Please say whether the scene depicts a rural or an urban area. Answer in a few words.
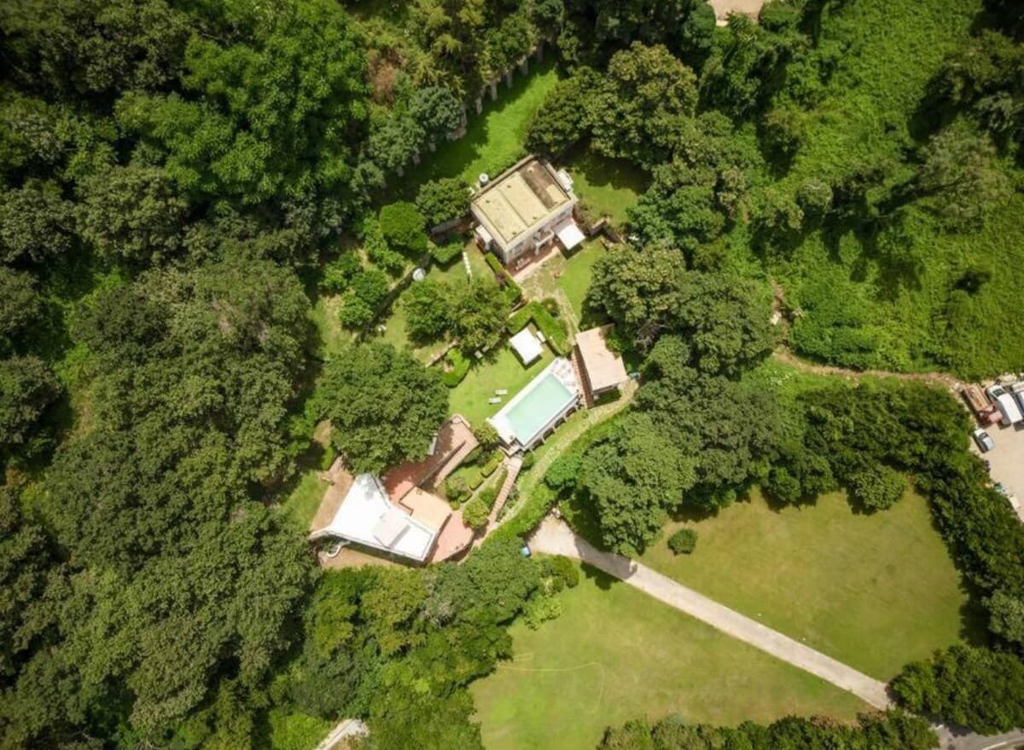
rural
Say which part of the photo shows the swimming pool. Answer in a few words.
center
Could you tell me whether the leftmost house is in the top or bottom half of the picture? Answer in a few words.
bottom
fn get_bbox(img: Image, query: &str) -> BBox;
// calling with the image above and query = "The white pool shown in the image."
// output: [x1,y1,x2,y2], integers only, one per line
[487,359,580,456]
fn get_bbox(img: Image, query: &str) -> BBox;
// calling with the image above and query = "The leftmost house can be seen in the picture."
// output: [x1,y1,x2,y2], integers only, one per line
[310,474,438,562]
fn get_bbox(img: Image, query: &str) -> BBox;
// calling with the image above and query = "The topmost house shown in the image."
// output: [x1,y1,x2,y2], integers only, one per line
[472,156,572,262]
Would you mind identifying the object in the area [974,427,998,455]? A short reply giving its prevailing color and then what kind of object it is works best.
white car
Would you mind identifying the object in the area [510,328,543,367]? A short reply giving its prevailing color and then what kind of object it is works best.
white gazebo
